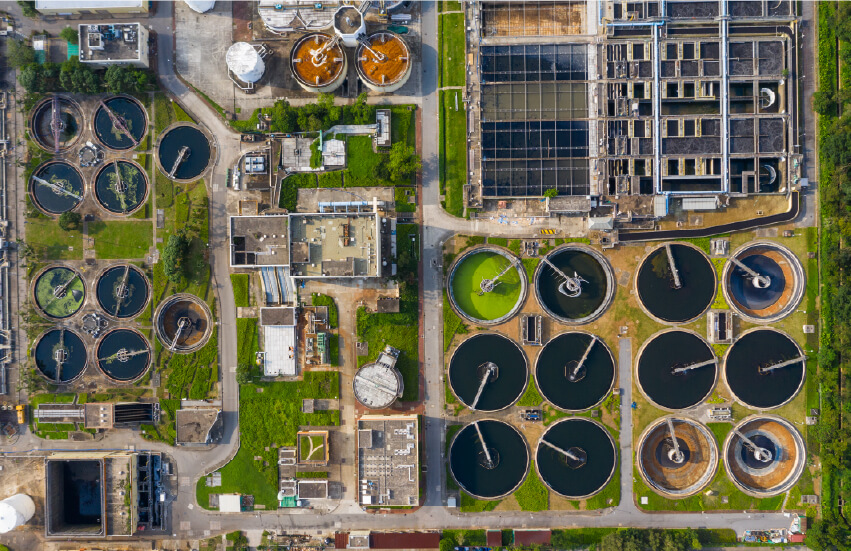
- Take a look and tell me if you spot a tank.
Yes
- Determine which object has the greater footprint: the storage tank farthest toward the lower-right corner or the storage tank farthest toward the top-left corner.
the storage tank farthest toward the lower-right corner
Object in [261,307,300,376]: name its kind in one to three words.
building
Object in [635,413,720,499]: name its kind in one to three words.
storage tank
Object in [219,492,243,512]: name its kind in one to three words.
shed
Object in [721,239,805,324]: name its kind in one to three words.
storage tank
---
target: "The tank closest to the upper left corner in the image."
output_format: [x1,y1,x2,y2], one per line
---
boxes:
[30,95,86,152]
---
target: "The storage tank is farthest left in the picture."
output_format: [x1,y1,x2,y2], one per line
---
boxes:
[0,491,35,534]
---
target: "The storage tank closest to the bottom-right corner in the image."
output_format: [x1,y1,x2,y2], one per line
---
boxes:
[721,412,807,498]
